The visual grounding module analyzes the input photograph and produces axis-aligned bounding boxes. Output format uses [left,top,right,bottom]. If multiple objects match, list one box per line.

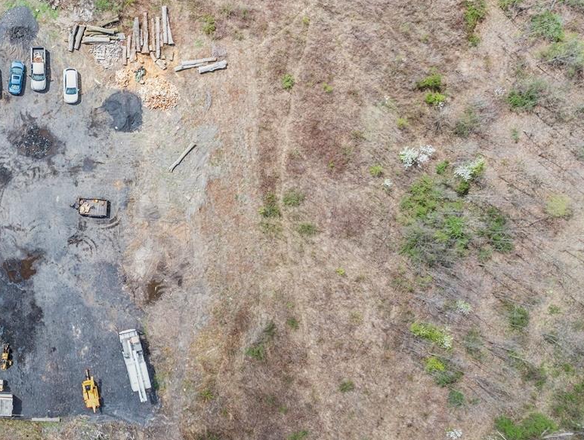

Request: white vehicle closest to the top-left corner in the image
[29,46,48,91]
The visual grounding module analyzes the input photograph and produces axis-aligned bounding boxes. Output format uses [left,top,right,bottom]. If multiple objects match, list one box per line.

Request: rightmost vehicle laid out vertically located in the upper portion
[63,67,80,104]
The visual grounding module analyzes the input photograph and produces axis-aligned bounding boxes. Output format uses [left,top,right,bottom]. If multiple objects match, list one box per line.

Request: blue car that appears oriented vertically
[8,60,25,96]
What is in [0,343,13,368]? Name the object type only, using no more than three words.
vehicle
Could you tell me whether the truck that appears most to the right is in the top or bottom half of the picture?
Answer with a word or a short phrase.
bottom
